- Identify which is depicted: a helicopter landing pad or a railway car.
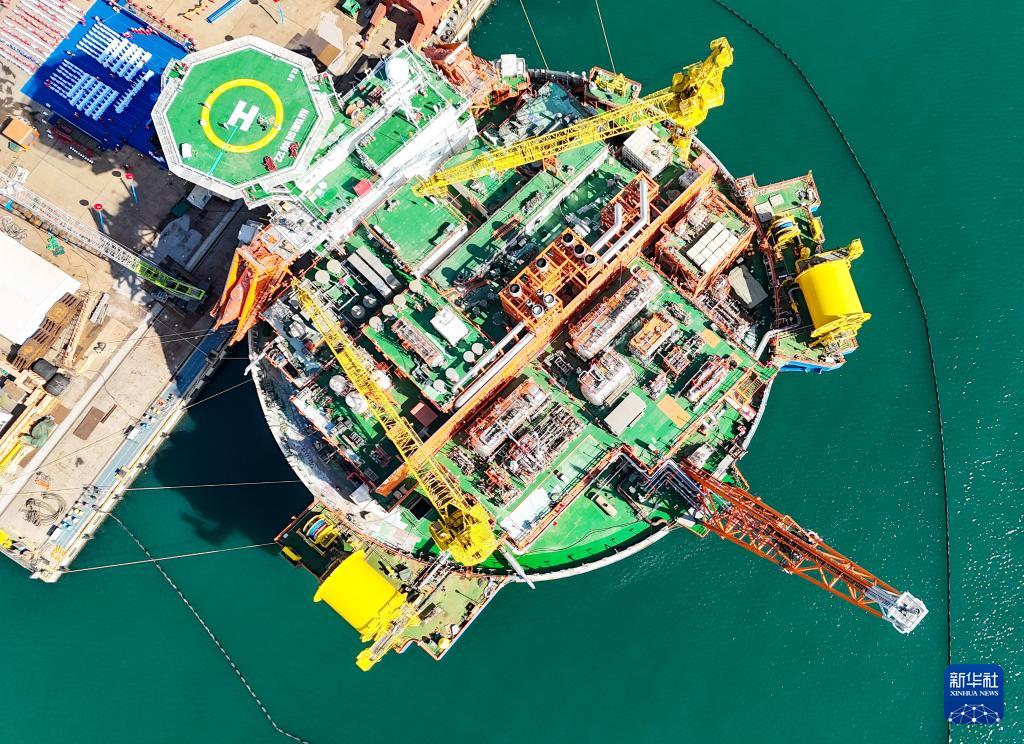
helicopter landing pad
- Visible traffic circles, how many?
0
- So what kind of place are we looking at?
port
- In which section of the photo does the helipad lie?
top left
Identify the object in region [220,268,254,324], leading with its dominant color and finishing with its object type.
red boat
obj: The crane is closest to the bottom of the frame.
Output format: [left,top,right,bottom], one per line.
[288,273,502,572]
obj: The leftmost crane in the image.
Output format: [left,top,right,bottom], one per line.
[0,183,221,321]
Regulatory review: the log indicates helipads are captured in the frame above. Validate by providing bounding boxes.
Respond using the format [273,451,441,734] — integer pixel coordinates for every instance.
[152,31,341,205]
